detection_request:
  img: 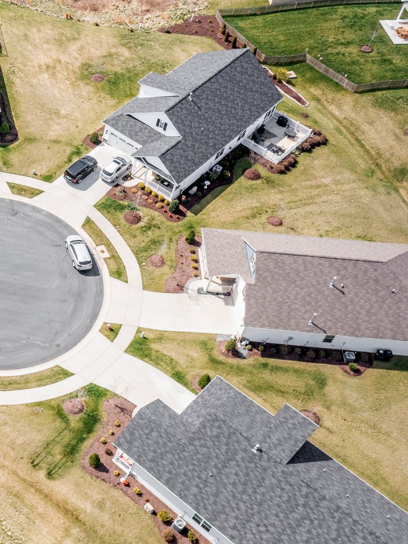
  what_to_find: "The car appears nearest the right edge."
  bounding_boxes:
[98,155,134,184]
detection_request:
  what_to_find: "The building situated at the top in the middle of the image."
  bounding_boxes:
[100,48,316,199]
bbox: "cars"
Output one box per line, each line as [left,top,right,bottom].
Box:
[98,155,134,184]
[64,156,99,185]
[64,235,94,273]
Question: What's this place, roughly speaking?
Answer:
residential area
